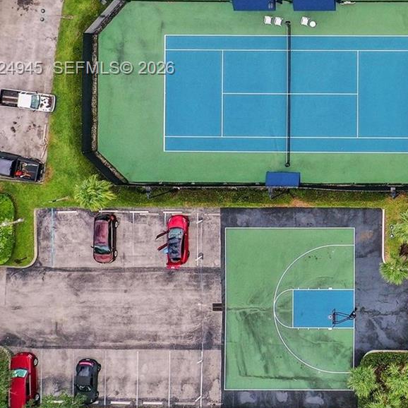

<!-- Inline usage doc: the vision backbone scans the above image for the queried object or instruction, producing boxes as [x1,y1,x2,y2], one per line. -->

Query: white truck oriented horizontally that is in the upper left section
[0,89,54,116]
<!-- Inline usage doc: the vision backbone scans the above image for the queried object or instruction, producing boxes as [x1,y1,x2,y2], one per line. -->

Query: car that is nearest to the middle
[153,215,190,273]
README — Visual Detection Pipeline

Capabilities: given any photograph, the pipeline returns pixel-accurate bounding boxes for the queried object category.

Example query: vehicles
[87,214,116,264]
[0,153,44,184]
[0,89,54,116]
[153,215,190,273]
[8,357,36,408]
[72,358,98,404]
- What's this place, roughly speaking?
sports ground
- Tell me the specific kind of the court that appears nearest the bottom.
basketball court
